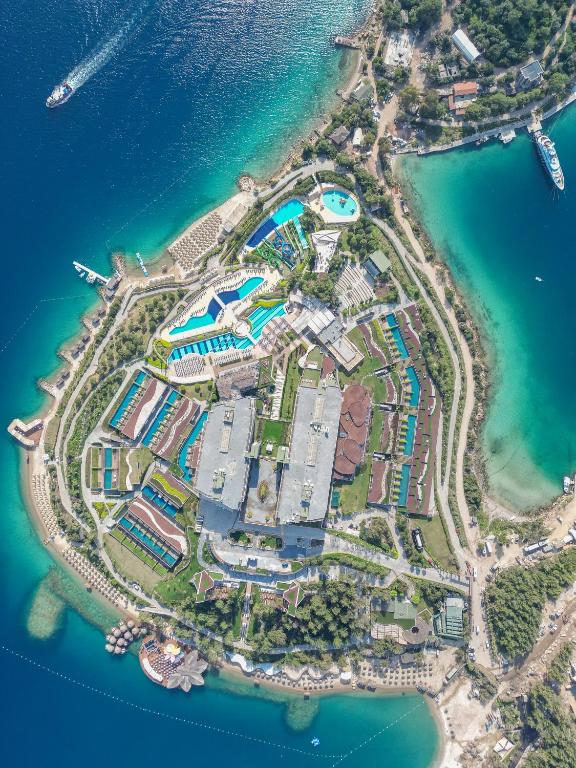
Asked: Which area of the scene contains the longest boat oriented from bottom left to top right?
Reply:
top left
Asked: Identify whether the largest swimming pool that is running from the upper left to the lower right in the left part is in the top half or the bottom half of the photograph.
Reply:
bottom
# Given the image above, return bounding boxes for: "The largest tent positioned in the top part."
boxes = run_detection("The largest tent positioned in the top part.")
[310,230,341,250]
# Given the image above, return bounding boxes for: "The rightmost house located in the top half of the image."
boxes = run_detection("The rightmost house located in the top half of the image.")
[515,60,544,88]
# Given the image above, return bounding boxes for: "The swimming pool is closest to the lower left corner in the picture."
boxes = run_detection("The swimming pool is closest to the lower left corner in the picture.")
[119,514,178,566]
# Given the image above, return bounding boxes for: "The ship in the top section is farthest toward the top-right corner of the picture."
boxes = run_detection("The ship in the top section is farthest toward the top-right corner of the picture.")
[534,126,566,188]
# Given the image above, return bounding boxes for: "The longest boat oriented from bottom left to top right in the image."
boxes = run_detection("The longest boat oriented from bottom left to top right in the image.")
[45,81,73,107]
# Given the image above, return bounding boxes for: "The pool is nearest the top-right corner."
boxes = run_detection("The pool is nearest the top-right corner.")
[322,189,357,216]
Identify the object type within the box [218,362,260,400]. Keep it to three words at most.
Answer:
building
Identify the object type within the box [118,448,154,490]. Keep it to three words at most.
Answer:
house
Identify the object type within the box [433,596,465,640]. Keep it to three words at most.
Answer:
greenhouse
